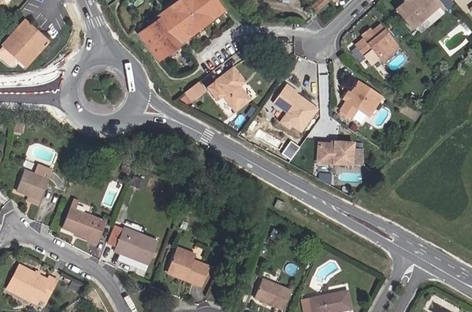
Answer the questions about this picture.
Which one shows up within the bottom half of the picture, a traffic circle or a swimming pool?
swimming pool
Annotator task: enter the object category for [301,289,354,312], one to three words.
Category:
house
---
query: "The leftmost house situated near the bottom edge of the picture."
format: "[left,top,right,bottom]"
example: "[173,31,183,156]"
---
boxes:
[4,264,57,308]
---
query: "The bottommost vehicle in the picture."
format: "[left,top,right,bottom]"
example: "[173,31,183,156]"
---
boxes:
[122,296,136,312]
